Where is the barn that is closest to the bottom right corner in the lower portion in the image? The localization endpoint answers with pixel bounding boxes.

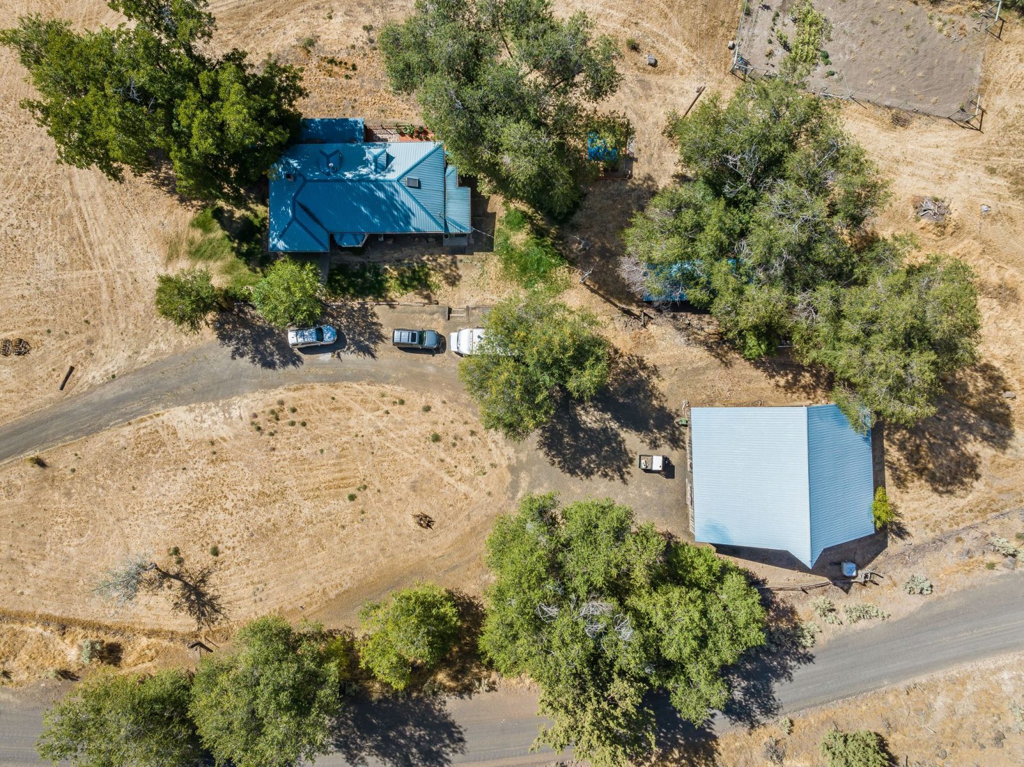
[685,403,876,566]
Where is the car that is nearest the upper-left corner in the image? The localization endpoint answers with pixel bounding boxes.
[287,325,339,349]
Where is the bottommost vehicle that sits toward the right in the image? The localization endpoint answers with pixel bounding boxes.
[638,452,666,470]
